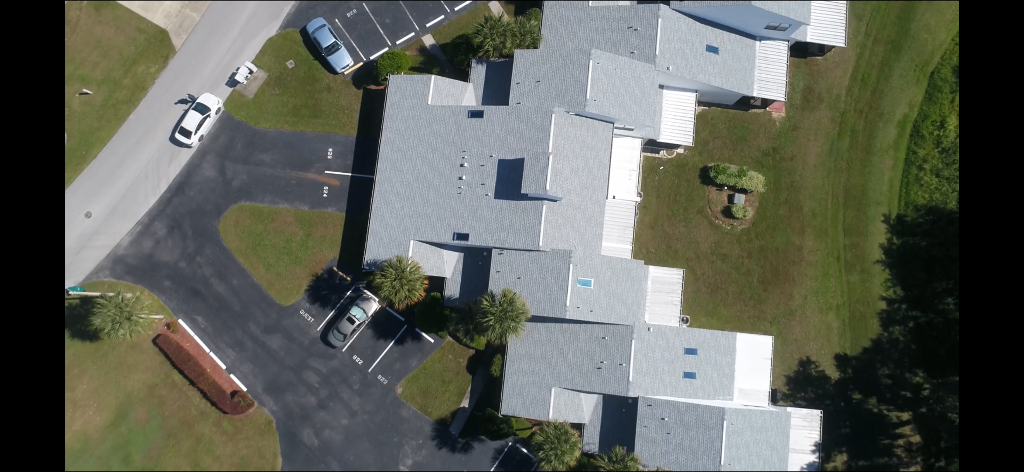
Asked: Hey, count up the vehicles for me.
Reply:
3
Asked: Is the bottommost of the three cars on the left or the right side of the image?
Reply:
left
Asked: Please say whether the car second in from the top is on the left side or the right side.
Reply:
left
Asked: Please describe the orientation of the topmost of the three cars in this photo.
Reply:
on a diagonal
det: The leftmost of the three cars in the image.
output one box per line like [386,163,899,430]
[176,93,225,148]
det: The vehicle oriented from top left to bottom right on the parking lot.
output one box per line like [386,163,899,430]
[306,17,354,73]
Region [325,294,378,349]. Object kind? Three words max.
car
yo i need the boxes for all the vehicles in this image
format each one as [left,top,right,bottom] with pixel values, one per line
[176,93,225,148]
[306,17,354,73]
[325,294,378,349]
